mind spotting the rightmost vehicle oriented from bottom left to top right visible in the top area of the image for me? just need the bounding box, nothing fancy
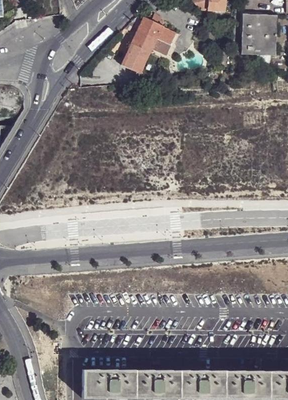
[88,28,113,52]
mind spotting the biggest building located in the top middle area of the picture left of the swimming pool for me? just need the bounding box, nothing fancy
[122,14,178,72]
